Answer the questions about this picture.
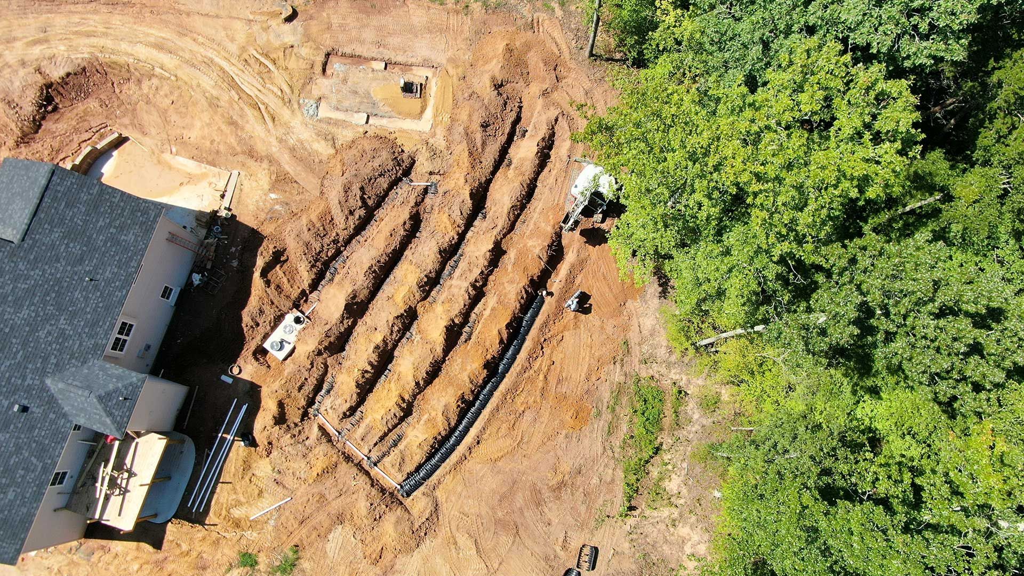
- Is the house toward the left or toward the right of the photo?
left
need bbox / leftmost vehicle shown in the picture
[397,72,421,97]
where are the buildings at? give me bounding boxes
[0,149,202,565]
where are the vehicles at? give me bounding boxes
[397,72,421,97]
[560,155,614,238]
